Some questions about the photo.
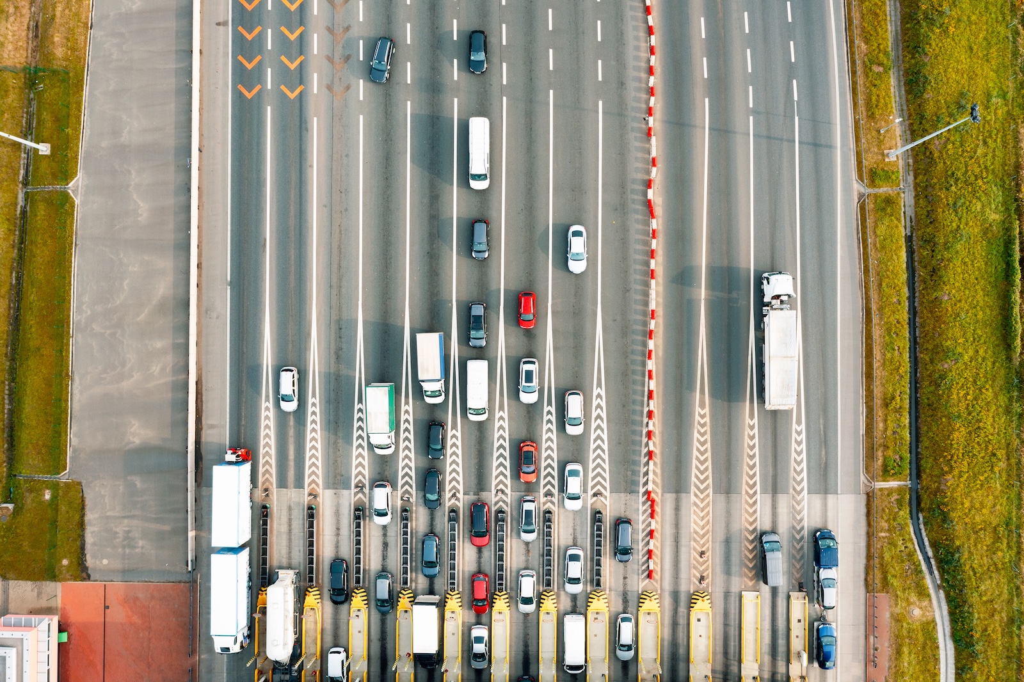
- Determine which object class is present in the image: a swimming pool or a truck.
truck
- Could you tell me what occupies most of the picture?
paved ground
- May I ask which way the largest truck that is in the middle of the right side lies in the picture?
up and down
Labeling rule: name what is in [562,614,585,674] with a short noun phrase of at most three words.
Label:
vehicle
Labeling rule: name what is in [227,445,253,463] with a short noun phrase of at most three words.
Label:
work vehicle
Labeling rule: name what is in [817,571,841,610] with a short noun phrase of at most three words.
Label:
car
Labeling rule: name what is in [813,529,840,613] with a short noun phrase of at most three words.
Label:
truck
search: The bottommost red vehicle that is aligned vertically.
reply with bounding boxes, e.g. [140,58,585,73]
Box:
[469,572,489,613]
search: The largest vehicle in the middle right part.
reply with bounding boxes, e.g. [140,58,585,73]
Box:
[757,272,796,410]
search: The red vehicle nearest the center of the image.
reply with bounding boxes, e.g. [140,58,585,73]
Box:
[516,291,536,329]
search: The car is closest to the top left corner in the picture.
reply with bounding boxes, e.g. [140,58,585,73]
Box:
[369,35,397,84]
